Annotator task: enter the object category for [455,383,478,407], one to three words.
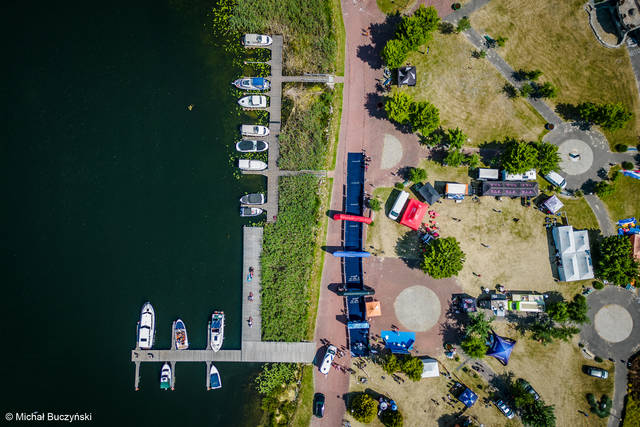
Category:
gazebo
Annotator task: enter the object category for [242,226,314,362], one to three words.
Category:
pier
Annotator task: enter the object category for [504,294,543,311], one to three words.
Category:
vehicle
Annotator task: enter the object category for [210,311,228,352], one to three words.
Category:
boat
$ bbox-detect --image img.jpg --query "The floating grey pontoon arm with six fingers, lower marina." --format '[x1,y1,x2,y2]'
[132,319,242,390]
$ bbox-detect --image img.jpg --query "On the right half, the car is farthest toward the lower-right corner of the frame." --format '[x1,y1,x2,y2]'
[586,365,609,380]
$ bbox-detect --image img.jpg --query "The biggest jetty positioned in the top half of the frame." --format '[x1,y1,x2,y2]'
[241,35,282,221]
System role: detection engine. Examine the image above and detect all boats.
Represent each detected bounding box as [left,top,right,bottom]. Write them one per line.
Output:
[238,206,262,216]
[240,193,264,207]
[209,364,222,391]
[242,33,272,49]
[238,159,268,171]
[159,362,171,392]
[172,319,189,351]
[236,138,268,154]
[136,303,157,352]
[238,94,267,108]
[241,124,269,139]
[210,311,228,352]
[234,76,272,92]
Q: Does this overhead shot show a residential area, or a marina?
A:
marina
